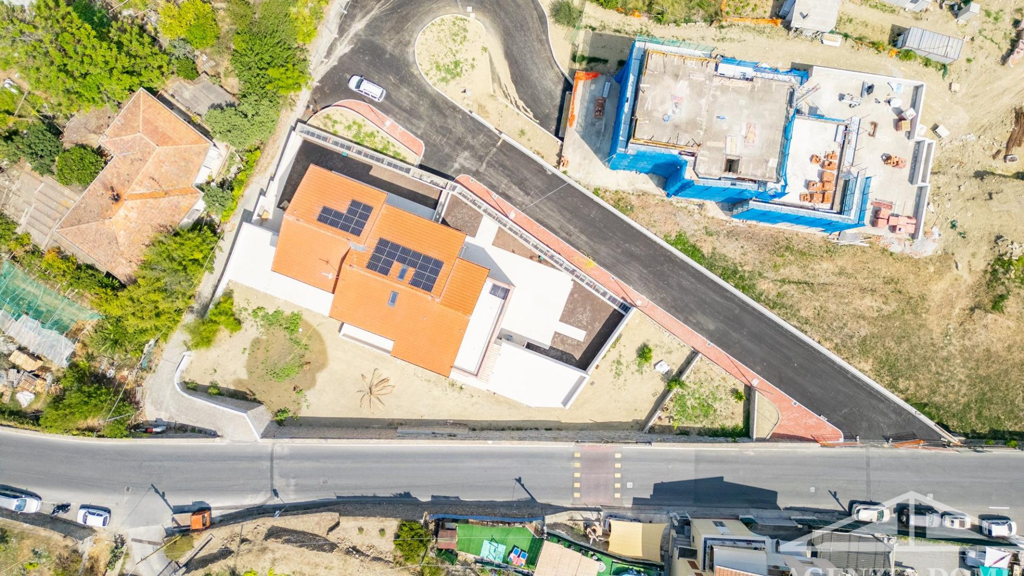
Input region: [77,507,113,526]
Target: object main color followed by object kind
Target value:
white car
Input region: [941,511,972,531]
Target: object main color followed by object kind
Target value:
white car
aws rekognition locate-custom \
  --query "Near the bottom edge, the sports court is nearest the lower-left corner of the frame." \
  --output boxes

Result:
[457,525,543,572]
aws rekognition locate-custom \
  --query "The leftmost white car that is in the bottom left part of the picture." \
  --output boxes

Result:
[0,489,42,513]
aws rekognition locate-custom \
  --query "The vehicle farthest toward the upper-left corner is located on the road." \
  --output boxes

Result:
[347,74,388,103]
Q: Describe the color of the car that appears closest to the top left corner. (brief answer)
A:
white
